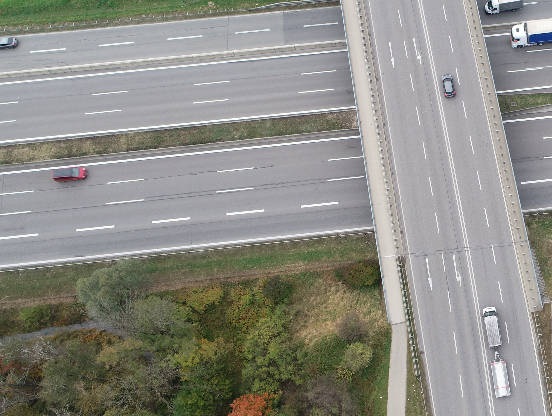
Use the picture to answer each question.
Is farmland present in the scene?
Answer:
No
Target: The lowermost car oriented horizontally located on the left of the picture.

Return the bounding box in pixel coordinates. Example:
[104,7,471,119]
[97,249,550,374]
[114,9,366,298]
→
[51,165,85,181]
